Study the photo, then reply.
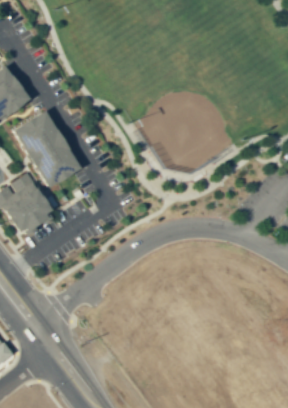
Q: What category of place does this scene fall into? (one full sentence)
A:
This looks like a sports ground.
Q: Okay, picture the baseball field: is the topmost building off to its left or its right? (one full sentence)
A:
You can see the topmost building positioned to the left of the baseball field.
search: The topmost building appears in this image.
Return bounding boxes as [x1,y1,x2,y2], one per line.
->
[0,66,31,120]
